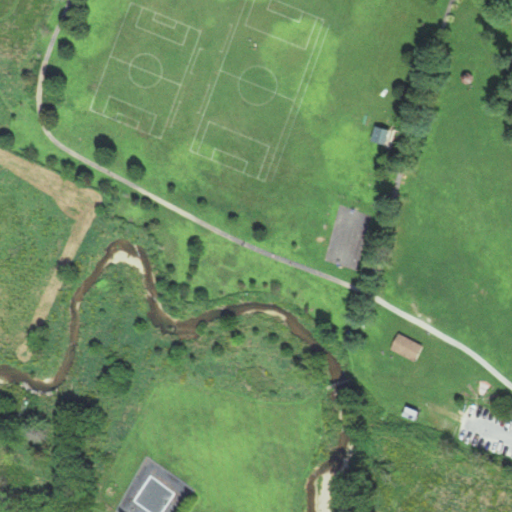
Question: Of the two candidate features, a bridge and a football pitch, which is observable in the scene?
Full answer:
The image shows a football pitch.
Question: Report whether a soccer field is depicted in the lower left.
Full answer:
No, no soccer field can be made out in the lower left.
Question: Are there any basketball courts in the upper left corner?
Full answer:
No, in the upper left corner there is no basketball court.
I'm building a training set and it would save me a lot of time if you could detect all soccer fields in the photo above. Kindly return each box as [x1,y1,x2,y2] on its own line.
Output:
[90,2,203,139]
[190,0,329,182]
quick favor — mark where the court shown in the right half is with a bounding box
[326,206,367,270]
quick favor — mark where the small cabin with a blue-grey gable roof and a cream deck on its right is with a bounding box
[372,126,398,146]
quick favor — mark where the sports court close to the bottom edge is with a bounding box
[116,456,196,512]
